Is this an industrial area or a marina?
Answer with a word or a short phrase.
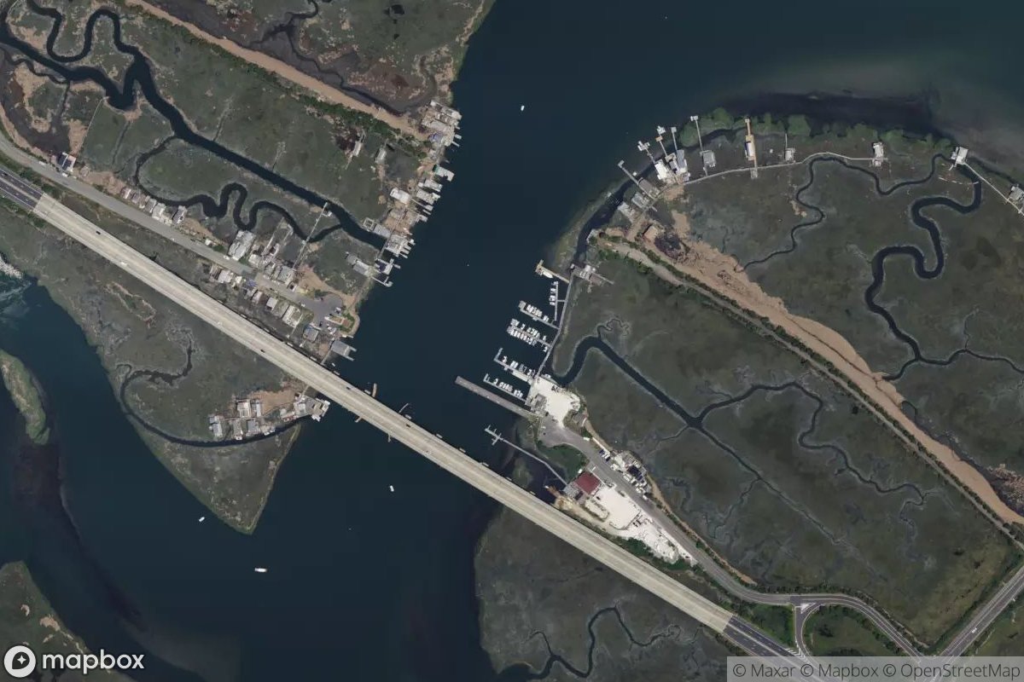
marina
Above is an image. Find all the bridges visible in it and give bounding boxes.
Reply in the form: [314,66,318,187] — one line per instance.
[33,193,733,633]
